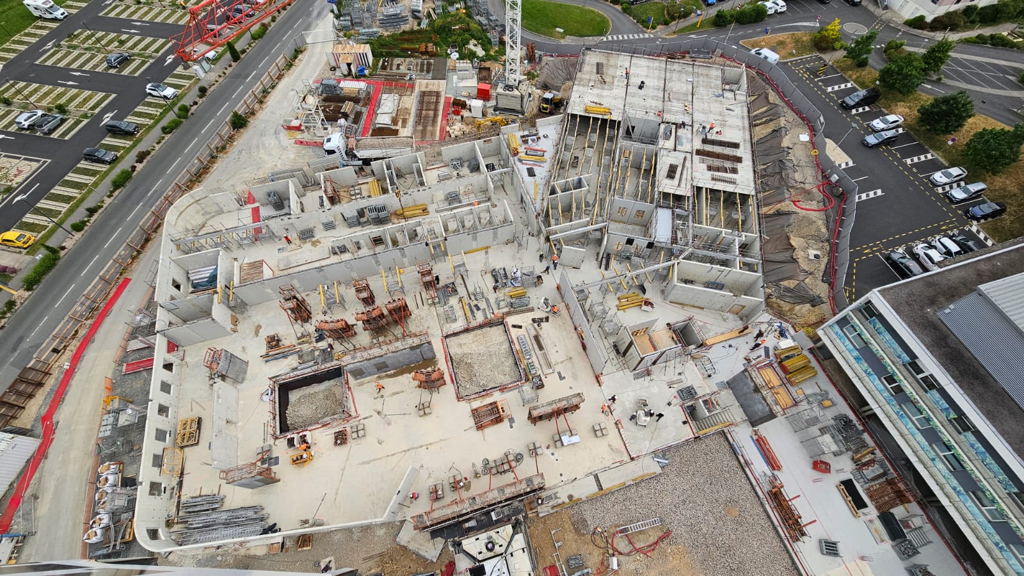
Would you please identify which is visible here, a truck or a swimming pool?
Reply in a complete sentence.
I can see a truck in this picture.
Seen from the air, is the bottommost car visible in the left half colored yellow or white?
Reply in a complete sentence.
In this view, the bottommost car visible in the left half is yellow.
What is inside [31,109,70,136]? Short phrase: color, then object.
gray car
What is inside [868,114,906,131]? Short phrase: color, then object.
white car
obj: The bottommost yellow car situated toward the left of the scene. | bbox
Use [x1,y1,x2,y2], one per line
[0,228,38,251]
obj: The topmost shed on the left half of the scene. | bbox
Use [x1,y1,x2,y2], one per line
[327,50,371,82]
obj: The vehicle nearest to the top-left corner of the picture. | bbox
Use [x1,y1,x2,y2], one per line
[21,0,66,21]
